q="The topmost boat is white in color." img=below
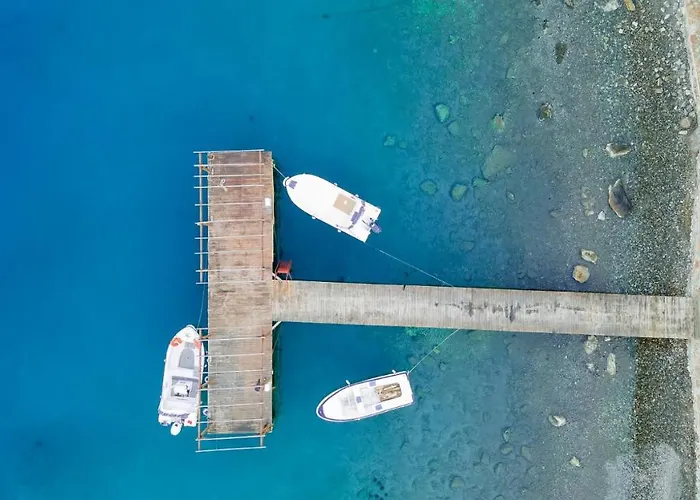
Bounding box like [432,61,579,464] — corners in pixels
[282,175,383,242]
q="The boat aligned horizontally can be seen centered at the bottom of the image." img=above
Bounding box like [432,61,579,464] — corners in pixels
[316,369,414,421]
